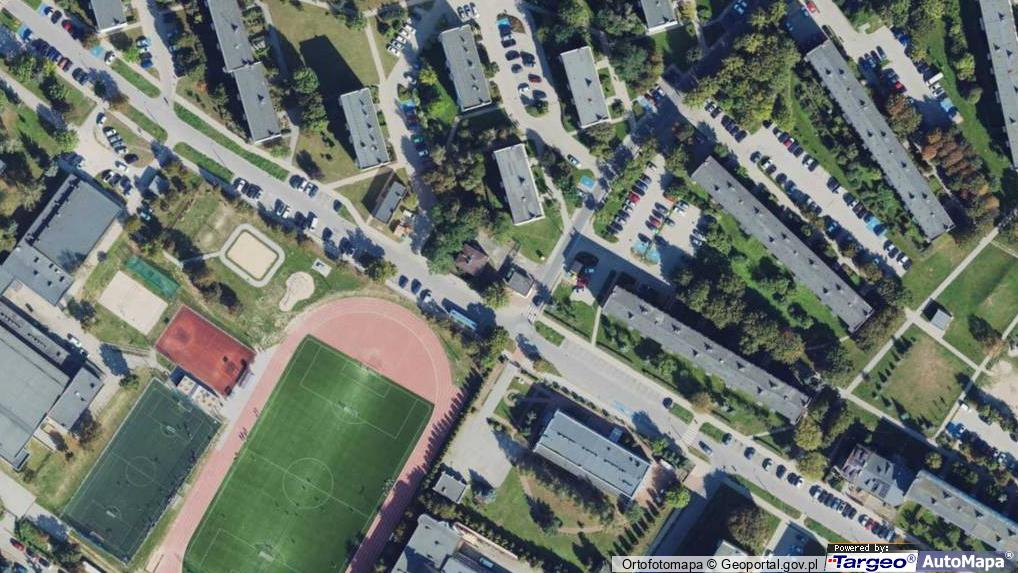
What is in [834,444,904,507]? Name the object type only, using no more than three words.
house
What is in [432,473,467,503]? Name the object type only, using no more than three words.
building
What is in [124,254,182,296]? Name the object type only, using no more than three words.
sports court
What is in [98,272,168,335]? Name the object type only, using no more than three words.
sports court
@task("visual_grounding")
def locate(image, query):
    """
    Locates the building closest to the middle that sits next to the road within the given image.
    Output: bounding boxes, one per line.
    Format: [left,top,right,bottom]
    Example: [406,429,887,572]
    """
[503,267,535,297]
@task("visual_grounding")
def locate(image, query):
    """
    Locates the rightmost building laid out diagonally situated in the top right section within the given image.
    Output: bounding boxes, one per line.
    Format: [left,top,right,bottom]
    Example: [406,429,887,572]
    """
[805,39,955,243]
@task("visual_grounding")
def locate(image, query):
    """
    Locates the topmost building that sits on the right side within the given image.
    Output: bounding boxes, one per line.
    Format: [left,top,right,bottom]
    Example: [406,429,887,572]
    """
[635,0,677,32]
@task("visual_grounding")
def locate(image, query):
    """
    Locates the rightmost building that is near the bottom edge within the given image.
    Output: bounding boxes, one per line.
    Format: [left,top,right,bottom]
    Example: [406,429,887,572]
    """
[904,471,1018,564]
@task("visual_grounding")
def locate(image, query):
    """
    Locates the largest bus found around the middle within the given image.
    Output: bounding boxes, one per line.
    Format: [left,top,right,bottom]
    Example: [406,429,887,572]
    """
[450,309,478,331]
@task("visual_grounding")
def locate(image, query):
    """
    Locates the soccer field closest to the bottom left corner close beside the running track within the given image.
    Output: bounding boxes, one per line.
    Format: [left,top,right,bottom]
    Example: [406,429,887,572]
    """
[65,378,221,564]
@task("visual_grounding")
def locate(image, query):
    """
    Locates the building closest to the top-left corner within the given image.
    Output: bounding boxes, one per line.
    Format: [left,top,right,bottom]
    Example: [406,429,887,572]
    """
[90,0,128,33]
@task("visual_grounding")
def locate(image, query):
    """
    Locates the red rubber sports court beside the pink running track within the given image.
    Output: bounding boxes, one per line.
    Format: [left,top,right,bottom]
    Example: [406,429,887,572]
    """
[156,305,254,397]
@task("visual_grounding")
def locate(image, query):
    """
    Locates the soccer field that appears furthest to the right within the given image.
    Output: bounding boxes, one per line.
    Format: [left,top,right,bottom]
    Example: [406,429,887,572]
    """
[185,334,434,573]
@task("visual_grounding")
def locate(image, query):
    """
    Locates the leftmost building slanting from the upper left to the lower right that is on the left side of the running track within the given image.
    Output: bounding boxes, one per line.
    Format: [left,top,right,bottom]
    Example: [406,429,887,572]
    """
[0,302,72,367]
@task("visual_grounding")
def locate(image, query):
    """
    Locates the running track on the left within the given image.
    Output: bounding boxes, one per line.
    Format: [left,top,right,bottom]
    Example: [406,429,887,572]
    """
[151,295,455,573]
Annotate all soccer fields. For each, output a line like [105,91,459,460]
[65,378,221,564]
[185,334,434,573]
